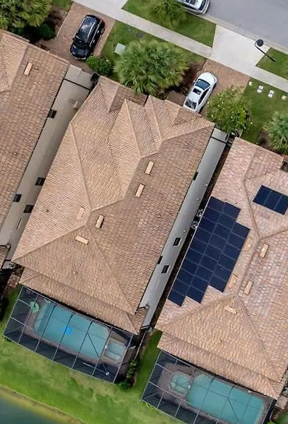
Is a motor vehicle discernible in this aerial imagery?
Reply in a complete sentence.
Yes, I can see a motor vehicle in this picture.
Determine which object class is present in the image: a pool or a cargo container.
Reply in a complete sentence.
Visible in the photo is a pool.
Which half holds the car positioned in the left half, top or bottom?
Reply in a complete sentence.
Seen from above, the car positioned in the left half lies in the top half of the view.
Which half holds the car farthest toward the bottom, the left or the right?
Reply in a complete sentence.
The car farthest toward the bottom sits on the right side.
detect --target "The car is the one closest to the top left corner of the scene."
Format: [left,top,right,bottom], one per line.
[72,11,106,62]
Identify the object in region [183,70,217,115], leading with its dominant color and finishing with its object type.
white car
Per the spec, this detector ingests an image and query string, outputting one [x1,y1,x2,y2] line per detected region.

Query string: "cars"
[186,0,213,18]
[72,11,106,62]
[183,70,217,115]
